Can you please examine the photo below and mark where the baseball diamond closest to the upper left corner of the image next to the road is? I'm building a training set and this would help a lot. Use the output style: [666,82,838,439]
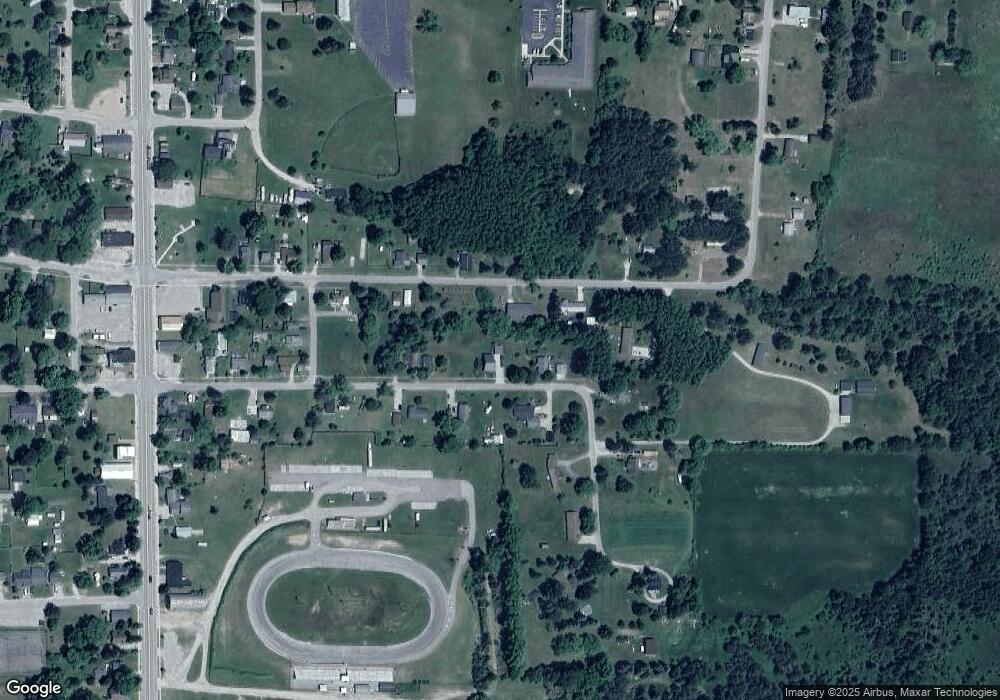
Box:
[319,97,398,178]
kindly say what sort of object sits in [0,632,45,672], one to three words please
sports court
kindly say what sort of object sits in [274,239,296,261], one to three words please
house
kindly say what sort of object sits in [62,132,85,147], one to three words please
building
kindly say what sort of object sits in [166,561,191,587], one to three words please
barn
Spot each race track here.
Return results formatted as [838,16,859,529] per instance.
[247,548,451,665]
